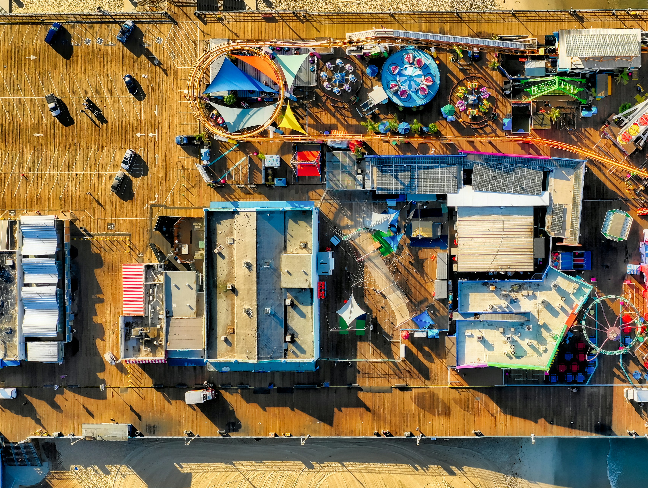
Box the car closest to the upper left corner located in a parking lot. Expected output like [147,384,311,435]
[44,21,63,47]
